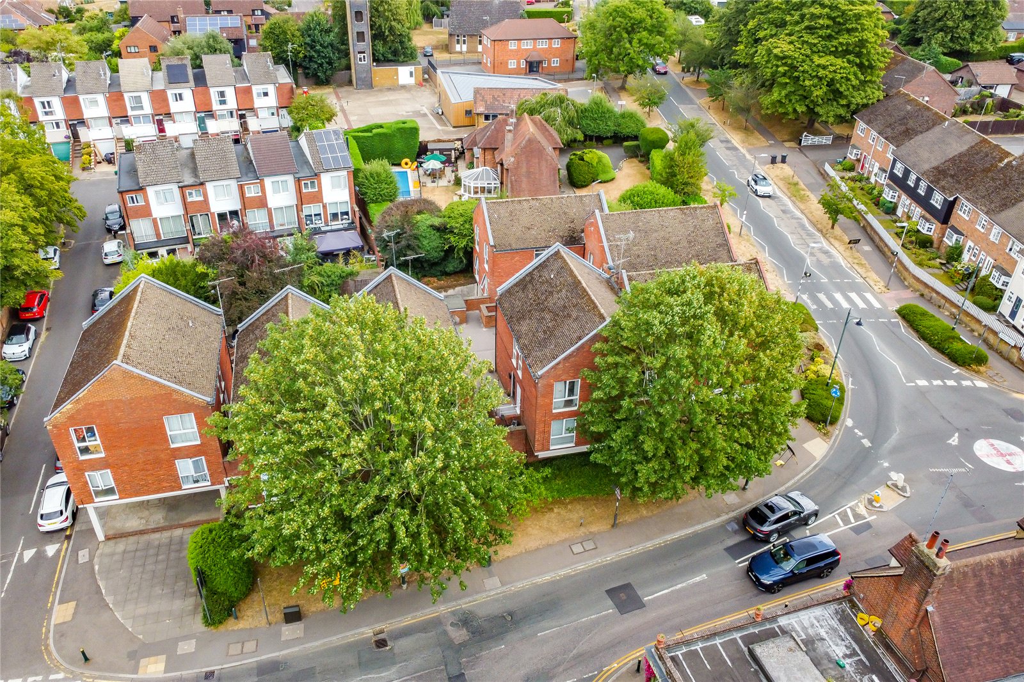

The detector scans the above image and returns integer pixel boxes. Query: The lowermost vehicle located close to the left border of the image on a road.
[28,472,76,540]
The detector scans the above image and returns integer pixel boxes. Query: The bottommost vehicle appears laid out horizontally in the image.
[742,531,847,594]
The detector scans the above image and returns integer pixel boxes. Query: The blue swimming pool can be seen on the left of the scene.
[387,166,413,200]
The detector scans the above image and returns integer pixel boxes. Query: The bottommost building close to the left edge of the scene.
[41,276,237,542]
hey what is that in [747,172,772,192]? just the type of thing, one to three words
car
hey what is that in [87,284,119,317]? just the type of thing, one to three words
car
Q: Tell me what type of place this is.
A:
residential area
